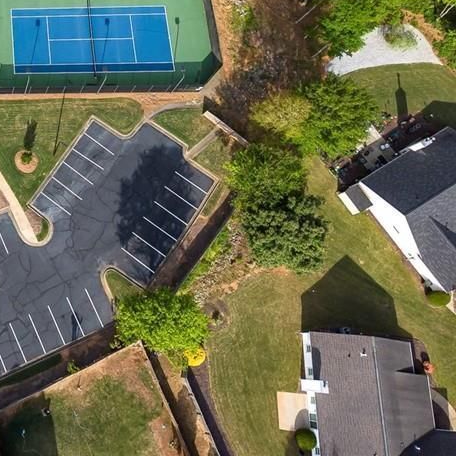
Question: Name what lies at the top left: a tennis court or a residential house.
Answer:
tennis court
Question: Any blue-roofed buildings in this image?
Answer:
No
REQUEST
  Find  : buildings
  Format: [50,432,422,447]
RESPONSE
[296,333,456,456]
[338,128,456,297]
